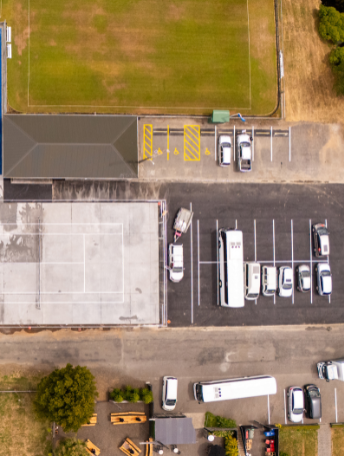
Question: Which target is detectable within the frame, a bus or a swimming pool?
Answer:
bus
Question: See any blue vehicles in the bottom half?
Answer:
No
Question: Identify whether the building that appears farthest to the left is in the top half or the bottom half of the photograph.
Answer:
top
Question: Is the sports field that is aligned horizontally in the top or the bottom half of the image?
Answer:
top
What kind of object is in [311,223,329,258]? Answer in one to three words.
car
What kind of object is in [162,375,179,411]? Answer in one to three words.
car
